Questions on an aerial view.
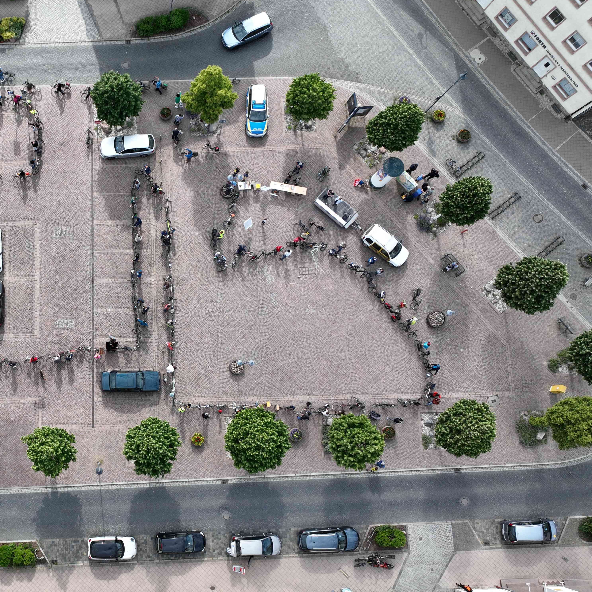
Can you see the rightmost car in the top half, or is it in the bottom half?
bottom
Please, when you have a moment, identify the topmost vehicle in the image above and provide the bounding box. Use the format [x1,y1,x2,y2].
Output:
[220,13,277,52]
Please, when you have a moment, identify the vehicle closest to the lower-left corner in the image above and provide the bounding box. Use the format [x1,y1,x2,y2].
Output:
[88,536,136,561]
